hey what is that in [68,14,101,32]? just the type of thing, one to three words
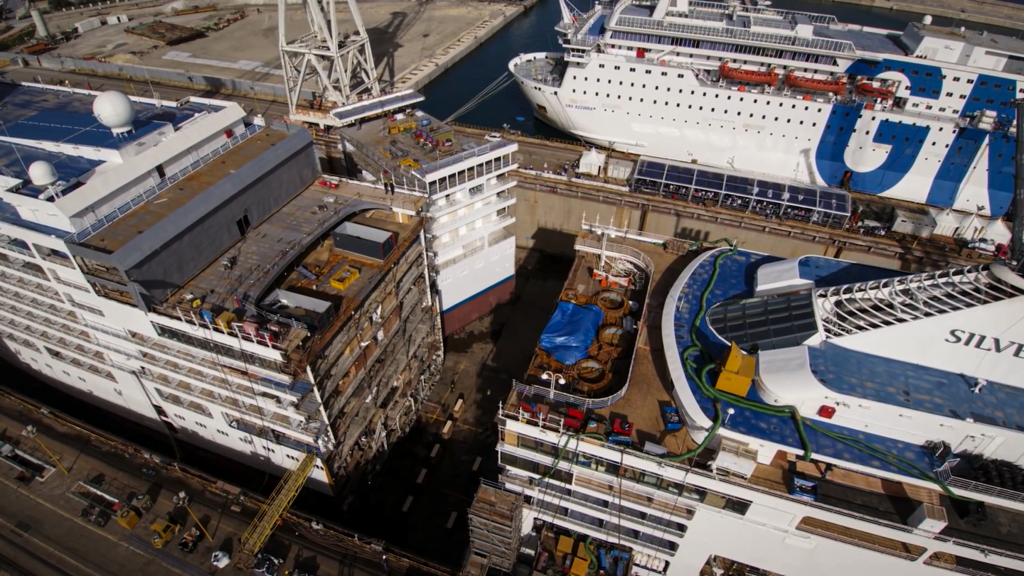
shed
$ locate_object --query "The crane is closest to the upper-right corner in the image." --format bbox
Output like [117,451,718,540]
[997,92,1024,278]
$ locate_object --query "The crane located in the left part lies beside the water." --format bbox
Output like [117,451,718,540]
[279,0,425,134]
